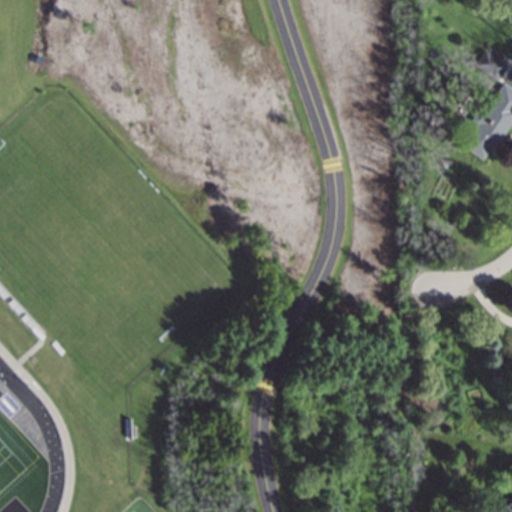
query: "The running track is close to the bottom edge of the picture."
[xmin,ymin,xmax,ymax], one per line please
[0,344,73,512]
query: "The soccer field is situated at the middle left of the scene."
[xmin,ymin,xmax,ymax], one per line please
[0,92,251,404]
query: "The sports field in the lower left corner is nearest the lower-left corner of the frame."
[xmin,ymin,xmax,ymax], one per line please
[0,416,50,512]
